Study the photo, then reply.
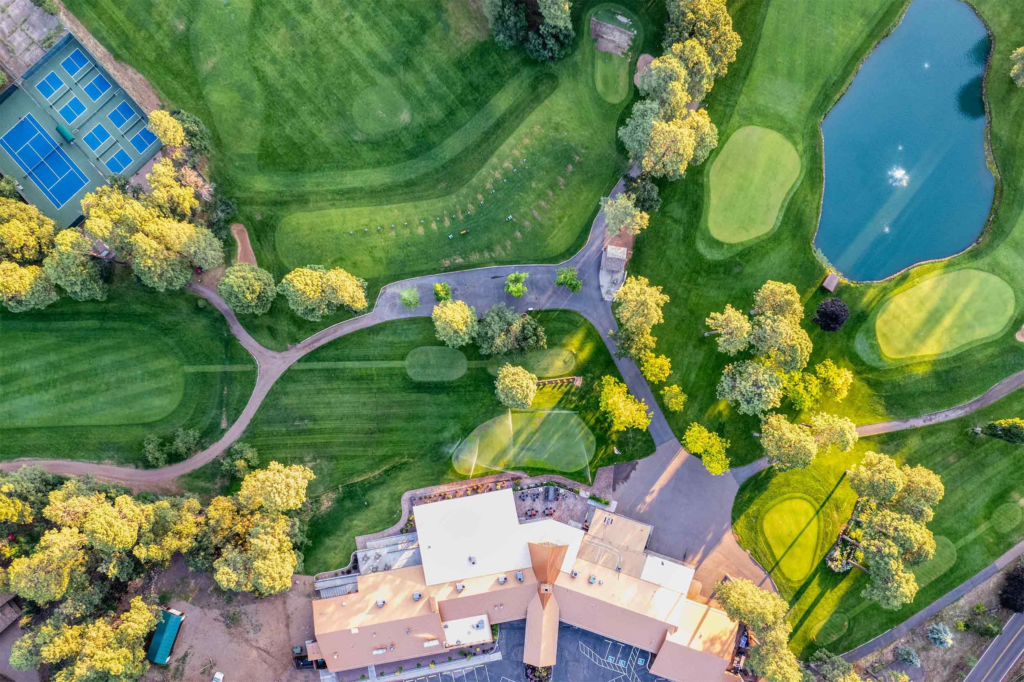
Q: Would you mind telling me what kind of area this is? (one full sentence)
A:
The area seen from above is a golf course.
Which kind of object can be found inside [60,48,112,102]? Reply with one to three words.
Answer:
sports court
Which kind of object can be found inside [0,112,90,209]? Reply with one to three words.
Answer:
tennis court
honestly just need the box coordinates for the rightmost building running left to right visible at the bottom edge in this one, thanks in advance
[307,485,739,682]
